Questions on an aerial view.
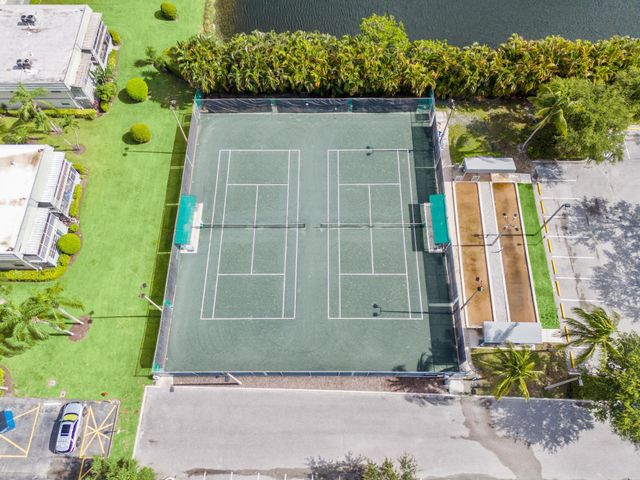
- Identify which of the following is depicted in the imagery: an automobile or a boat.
automobile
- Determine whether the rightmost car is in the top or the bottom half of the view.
bottom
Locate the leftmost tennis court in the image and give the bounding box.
[166,112,314,375]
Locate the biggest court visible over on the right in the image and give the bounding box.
[311,112,461,376]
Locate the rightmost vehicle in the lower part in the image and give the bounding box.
[52,403,84,452]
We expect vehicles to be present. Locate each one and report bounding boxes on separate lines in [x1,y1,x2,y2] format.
[52,403,84,452]
[0,414,16,435]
